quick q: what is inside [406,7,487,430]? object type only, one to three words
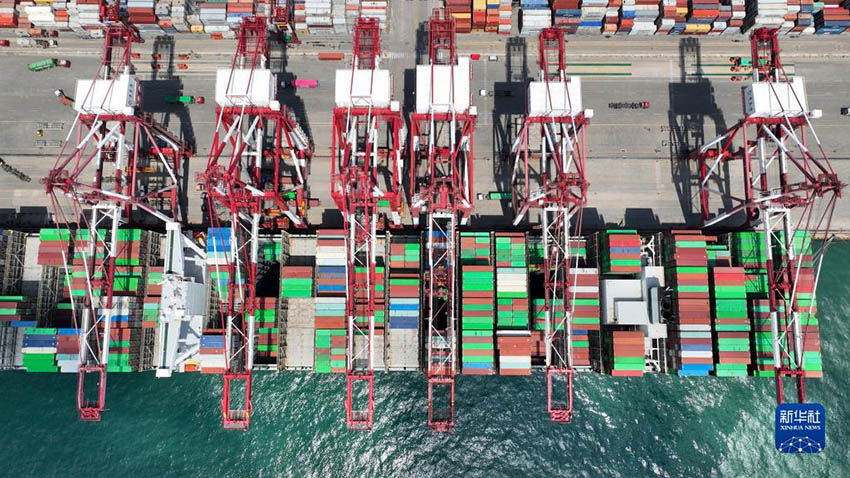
container crane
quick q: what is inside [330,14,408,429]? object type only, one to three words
container crane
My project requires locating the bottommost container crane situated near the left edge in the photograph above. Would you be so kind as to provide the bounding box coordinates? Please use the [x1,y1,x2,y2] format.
[41,20,203,418]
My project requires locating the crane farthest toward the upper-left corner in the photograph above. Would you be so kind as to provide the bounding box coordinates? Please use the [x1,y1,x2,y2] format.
[97,0,126,29]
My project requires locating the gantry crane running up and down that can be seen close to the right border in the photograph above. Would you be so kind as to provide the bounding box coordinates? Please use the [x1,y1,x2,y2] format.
[675,25,846,422]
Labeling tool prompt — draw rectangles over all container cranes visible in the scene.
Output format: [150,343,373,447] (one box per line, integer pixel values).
[330,14,408,429]
[272,0,305,39]
[496,25,599,421]
[406,7,487,430]
[41,20,203,418]
[675,25,846,422]
[196,16,312,428]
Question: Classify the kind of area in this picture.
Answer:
port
